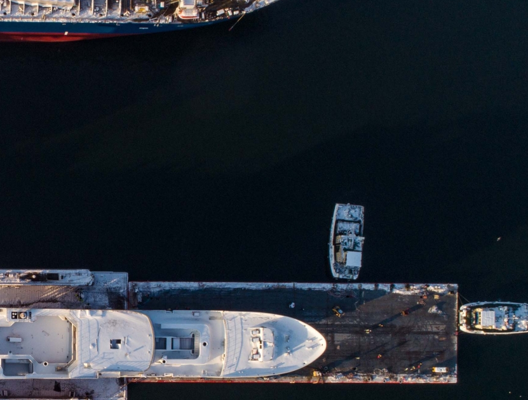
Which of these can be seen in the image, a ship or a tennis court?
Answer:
ship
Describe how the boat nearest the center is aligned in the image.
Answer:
up and down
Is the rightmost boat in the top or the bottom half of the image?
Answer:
bottom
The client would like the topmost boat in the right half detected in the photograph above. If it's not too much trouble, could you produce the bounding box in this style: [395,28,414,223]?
[327,204,366,279]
